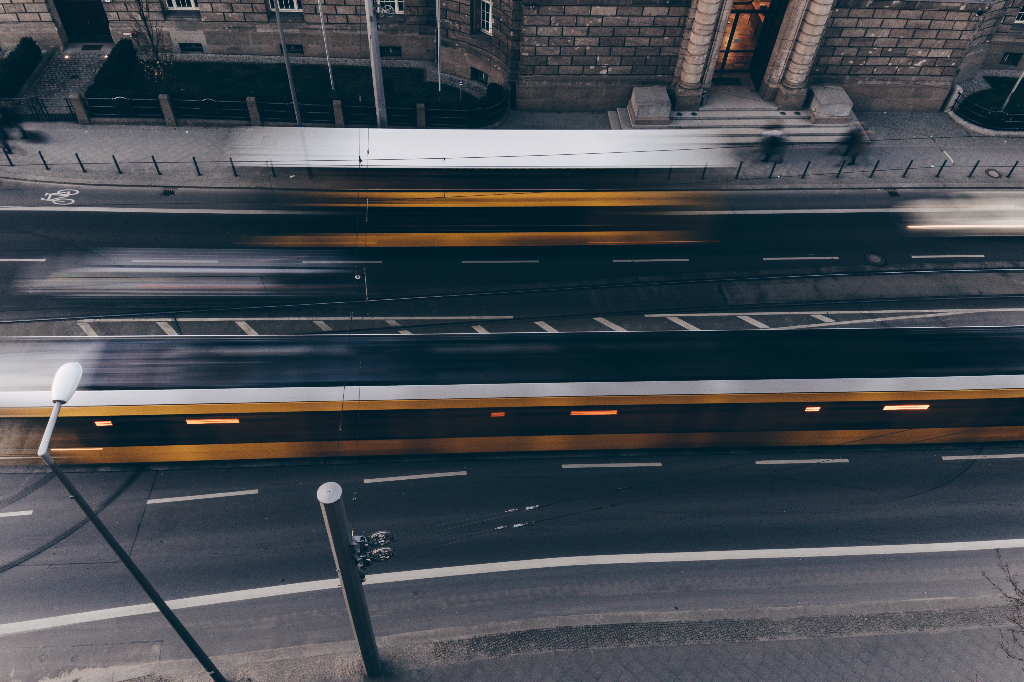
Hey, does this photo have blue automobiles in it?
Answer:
No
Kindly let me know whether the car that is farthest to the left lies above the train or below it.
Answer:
above it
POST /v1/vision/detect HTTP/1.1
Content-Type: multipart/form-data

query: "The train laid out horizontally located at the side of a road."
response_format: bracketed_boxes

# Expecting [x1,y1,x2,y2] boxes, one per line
[5,323,1024,465]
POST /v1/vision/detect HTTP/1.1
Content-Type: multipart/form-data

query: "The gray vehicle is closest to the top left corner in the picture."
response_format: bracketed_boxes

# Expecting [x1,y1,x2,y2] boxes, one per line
[114,241,264,301]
